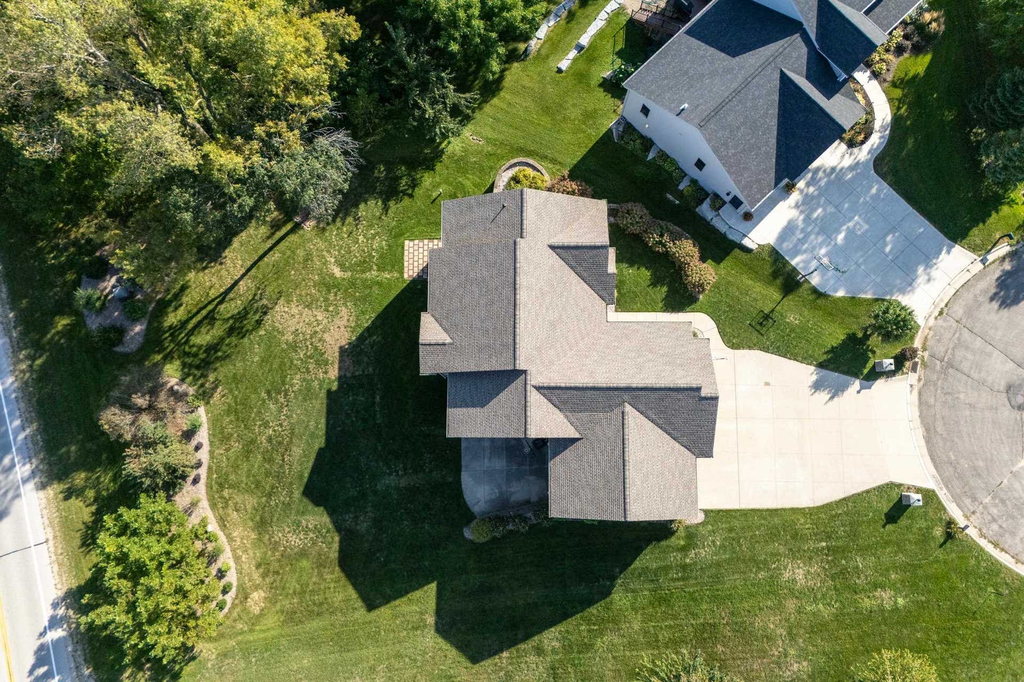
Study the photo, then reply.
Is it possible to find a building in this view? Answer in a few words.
Yes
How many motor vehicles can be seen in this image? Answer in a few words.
0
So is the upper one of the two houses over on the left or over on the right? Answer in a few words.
right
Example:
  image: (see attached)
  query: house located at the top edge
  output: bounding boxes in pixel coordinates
[622,0,926,218]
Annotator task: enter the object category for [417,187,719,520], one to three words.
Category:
house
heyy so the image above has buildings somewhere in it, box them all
[622,0,926,218]
[417,187,719,520]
